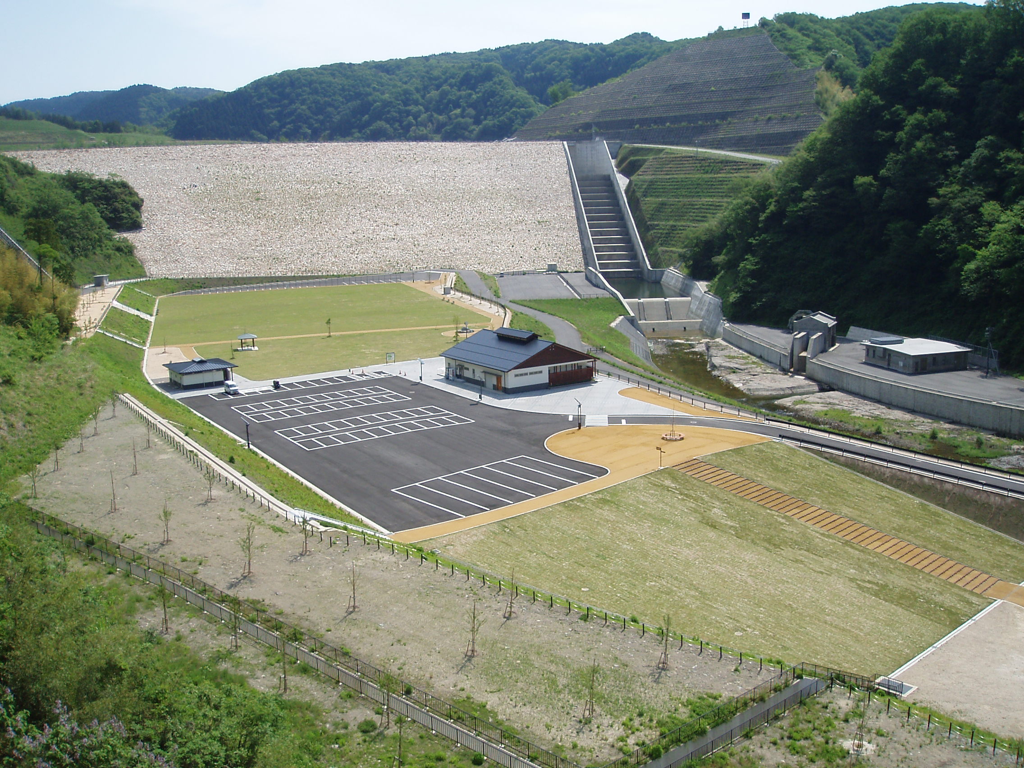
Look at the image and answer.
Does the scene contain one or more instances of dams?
Yes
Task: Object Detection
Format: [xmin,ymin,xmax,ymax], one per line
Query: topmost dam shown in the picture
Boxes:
[0,144,586,291]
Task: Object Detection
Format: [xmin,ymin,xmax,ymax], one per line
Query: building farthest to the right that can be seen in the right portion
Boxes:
[859,339,978,374]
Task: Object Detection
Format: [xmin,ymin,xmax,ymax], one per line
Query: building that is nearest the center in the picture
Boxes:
[437,325,601,393]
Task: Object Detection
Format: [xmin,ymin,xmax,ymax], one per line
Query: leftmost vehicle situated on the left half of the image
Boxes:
[224,377,243,393]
